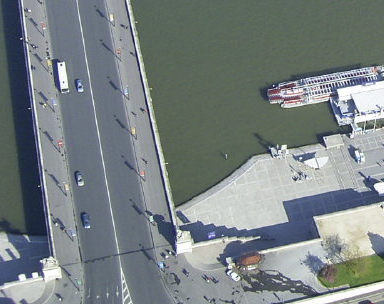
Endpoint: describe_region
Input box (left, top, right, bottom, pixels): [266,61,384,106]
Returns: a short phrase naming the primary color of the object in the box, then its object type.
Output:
white boat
